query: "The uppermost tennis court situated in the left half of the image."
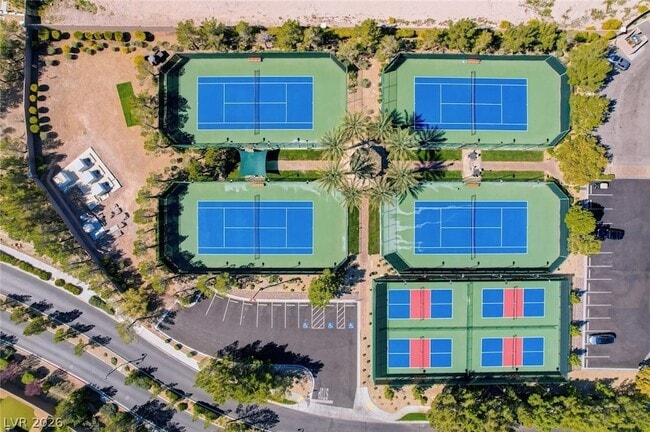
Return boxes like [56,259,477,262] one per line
[166,59,346,148]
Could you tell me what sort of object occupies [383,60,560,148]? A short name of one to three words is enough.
tennis court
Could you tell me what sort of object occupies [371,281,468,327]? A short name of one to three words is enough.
sports court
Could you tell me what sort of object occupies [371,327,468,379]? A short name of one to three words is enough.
sports court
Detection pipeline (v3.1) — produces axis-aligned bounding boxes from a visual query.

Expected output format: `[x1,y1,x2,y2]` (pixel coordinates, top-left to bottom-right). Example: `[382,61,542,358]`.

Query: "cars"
[606,53,631,71]
[589,334,614,345]
[598,228,625,240]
